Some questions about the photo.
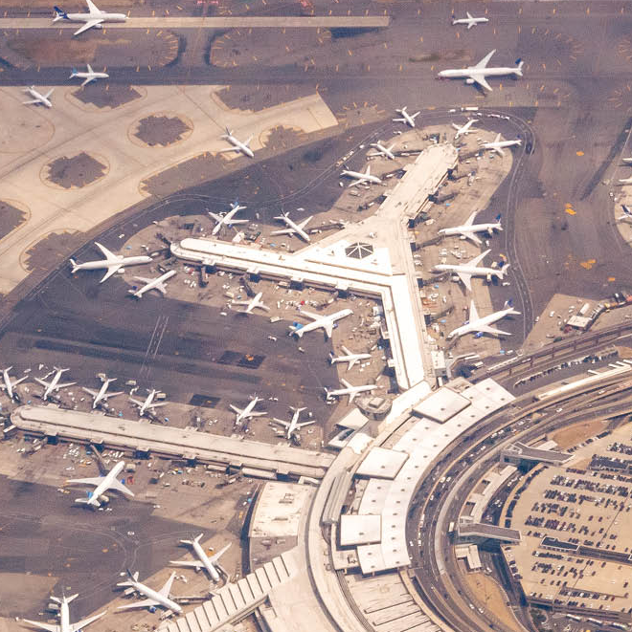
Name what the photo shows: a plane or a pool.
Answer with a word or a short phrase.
plane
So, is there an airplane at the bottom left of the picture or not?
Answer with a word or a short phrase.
Yes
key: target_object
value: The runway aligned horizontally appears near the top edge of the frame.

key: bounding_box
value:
[0,15,390,29]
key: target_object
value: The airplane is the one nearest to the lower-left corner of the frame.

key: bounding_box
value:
[20,590,108,632]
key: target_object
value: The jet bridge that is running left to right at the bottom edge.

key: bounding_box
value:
[169,593,212,605]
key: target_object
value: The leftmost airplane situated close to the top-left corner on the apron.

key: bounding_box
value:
[25,81,52,106]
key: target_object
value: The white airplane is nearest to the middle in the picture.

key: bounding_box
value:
[291,310,348,338]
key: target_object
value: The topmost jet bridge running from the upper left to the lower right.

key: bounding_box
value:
[153,230,172,245]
